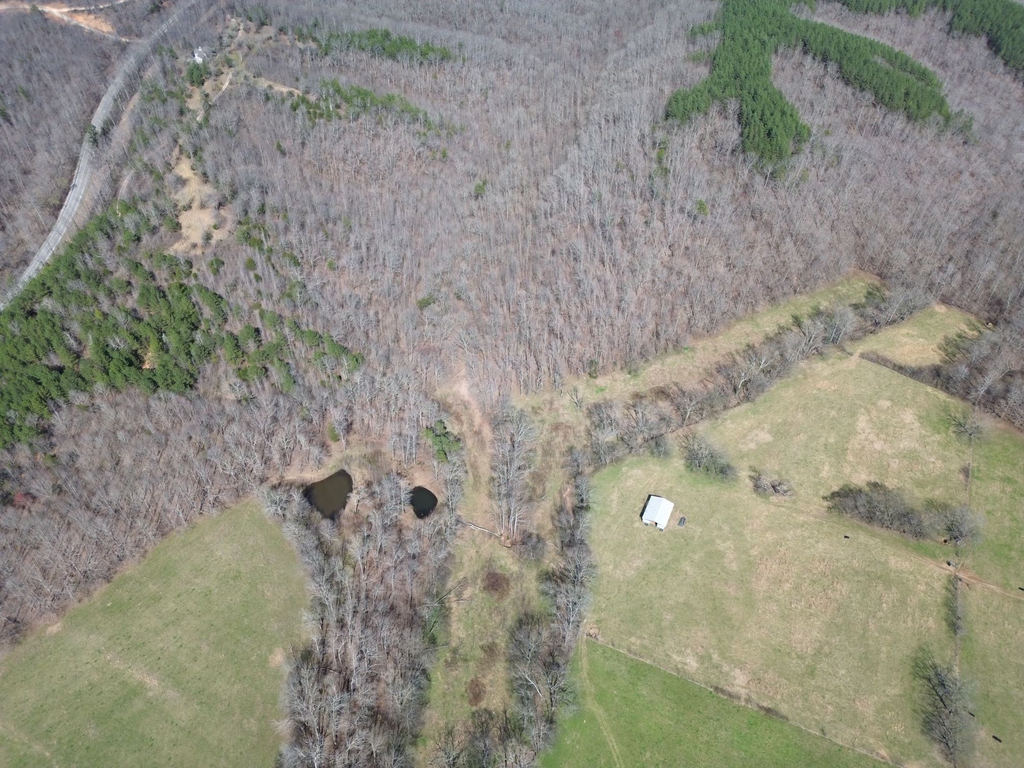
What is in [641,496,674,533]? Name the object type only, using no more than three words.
barn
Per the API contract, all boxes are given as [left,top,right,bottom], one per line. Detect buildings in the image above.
[189,44,209,62]
[641,496,674,533]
